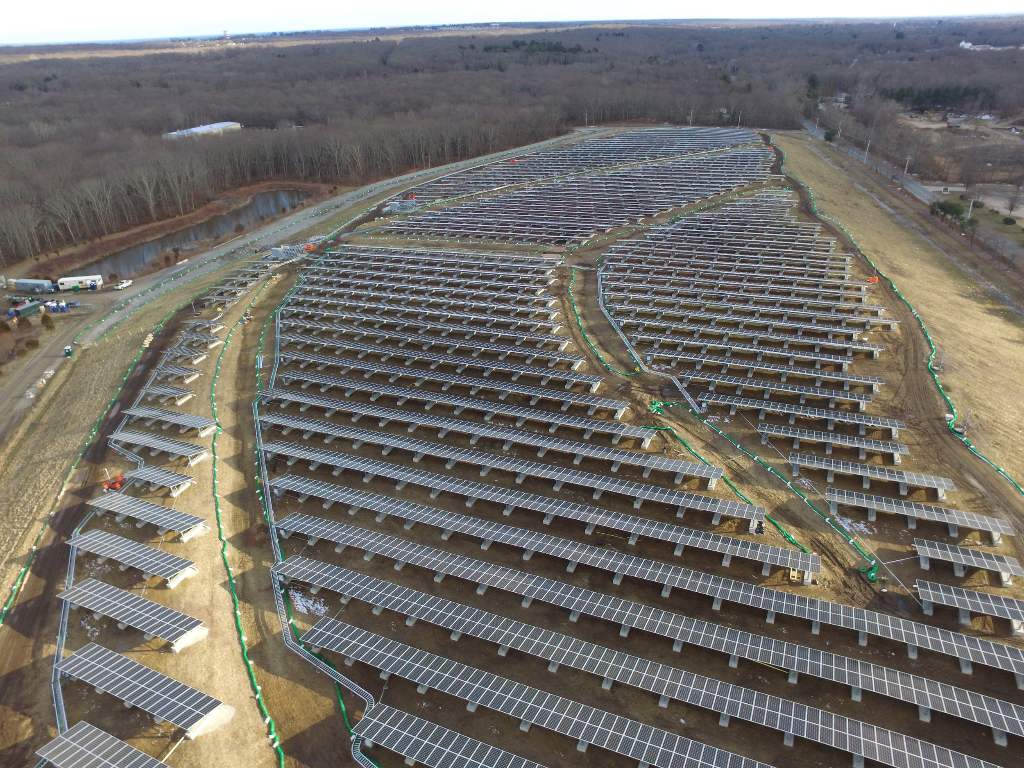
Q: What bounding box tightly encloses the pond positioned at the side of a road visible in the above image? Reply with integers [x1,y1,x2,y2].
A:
[72,190,311,283]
